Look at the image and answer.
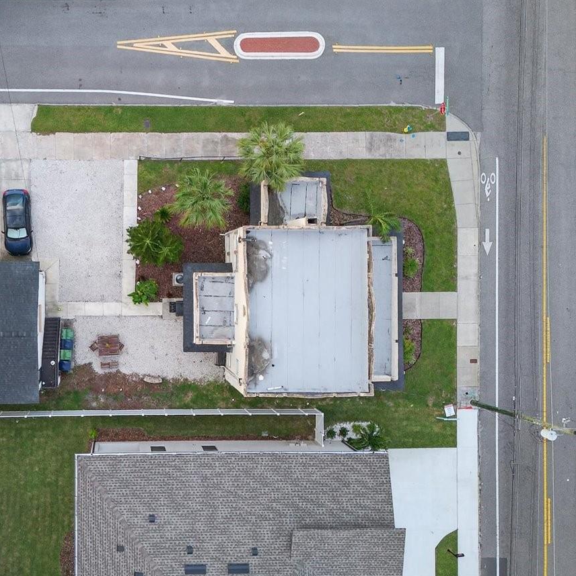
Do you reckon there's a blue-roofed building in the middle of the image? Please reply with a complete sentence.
No, there is no blue-roofed building in the middle of the image.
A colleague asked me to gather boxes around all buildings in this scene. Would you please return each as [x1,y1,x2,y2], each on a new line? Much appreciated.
[73,438,405,576]
[182,171,402,397]
[0,262,48,407]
